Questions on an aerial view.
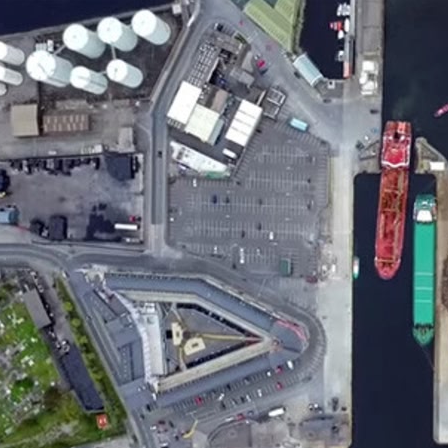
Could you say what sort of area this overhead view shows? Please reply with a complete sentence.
The picture captures an industrial area.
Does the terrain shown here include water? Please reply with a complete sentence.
Yes, some water is visible.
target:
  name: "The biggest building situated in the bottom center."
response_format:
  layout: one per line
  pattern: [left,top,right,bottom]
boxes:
[106,273,312,411]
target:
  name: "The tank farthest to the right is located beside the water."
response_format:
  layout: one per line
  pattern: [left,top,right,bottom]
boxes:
[131,8,171,45]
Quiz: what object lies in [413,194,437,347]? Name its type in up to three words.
ship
